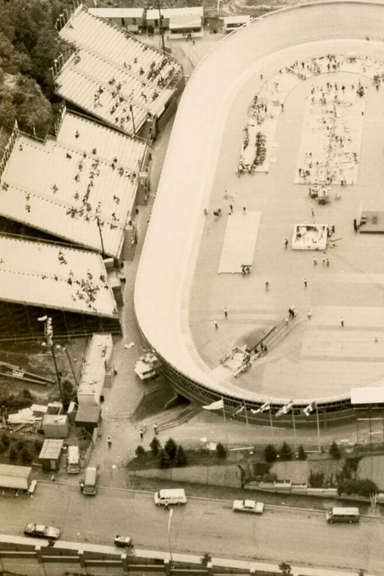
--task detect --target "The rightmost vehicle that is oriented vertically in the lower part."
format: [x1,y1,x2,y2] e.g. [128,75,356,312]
[80,457,97,493]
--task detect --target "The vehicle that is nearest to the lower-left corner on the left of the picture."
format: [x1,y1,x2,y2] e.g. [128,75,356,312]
[22,525,62,542]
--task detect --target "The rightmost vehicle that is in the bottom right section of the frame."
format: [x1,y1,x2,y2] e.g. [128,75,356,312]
[327,509,360,527]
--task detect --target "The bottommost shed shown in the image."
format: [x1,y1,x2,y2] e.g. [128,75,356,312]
[39,439,63,471]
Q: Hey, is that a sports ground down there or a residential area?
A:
sports ground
